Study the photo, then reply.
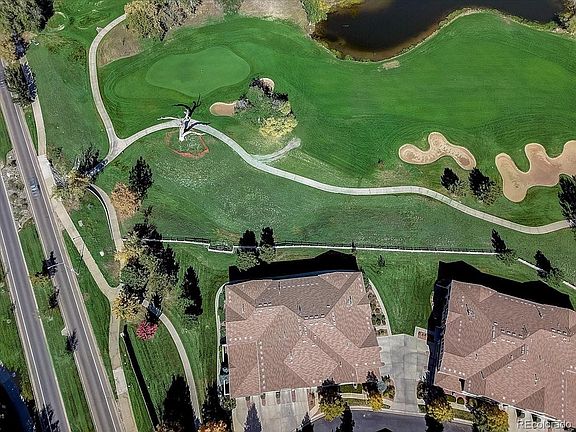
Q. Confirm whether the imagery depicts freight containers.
No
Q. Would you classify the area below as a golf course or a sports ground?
golf course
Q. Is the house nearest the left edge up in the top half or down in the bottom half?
bottom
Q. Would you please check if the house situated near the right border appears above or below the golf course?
below it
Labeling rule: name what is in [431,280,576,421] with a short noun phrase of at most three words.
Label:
house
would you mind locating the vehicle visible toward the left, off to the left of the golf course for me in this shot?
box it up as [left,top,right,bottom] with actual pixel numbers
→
[28,178,42,196]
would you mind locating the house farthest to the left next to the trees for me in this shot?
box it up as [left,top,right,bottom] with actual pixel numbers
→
[222,272,382,395]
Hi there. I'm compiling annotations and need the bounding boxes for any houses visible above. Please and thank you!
[222,272,382,395]
[431,280,576,421]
